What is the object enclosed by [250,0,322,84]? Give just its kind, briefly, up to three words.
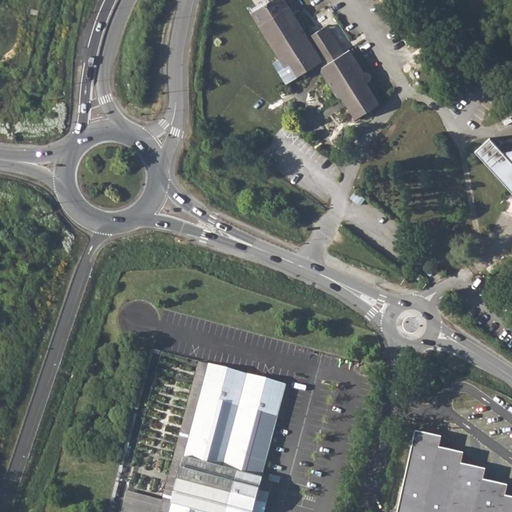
barn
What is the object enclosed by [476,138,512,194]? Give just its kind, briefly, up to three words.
house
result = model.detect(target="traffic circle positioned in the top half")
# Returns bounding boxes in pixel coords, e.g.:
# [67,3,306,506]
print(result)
[53,119,169,235]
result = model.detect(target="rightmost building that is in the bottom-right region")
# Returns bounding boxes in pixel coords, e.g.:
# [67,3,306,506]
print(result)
[398,431,512,512]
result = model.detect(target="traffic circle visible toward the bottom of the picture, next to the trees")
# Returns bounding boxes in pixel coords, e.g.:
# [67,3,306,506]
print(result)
[382,294,442,354]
